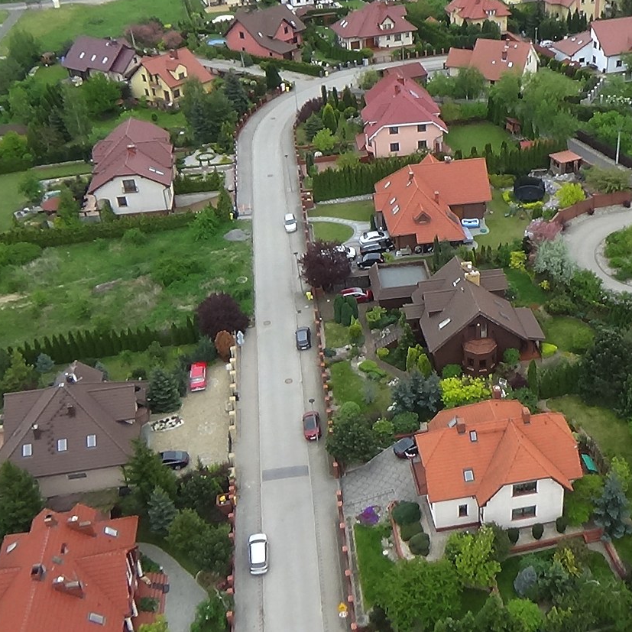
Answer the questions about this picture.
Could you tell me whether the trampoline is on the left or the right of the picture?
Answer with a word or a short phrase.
right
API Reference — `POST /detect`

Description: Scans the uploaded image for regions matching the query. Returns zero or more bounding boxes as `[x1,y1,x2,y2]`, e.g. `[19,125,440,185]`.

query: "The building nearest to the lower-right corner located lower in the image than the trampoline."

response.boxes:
[413,385,583,528]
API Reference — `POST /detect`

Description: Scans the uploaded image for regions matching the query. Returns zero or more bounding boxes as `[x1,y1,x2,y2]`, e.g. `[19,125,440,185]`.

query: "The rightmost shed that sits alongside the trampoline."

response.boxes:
[552,154,581,177]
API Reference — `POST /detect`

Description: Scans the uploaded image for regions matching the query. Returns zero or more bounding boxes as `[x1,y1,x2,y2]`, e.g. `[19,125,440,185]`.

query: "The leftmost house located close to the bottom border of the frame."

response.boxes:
[0,489,148,632]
